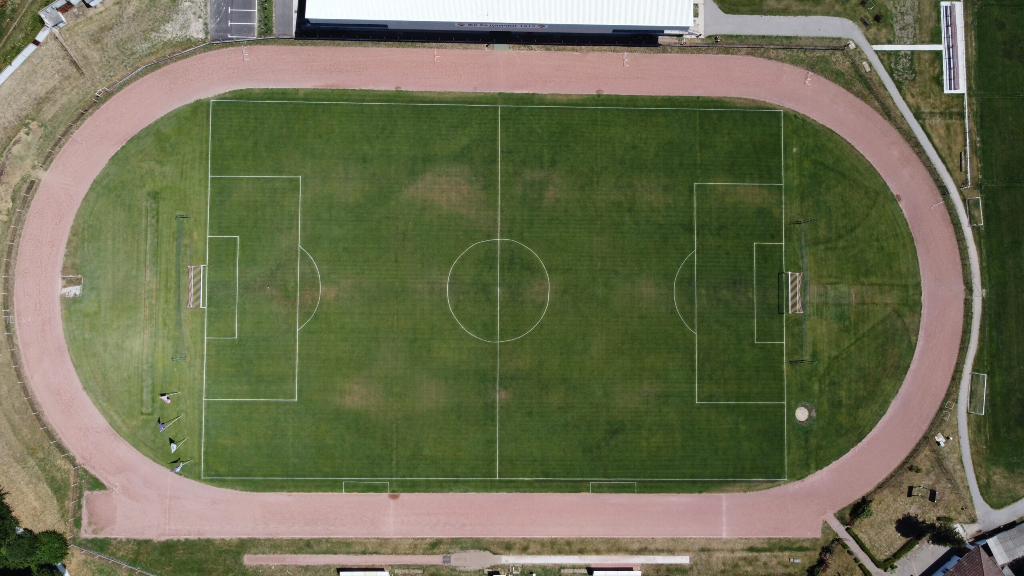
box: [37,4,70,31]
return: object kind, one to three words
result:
shed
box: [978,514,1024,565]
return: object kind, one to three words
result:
shed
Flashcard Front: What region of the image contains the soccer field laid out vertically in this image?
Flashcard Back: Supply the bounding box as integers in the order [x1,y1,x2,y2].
[976,0,1024,507]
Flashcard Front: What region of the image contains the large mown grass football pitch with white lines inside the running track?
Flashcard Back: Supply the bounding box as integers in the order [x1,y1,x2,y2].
[60,88,922,494]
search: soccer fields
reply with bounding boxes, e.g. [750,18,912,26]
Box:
[60,88,922,494]
[976,0,1024,507]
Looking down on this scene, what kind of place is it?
sports ground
